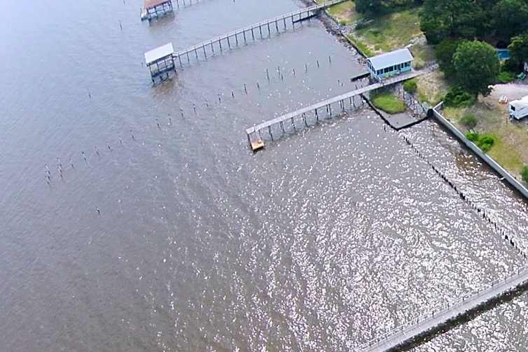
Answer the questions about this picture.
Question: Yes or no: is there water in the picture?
Yes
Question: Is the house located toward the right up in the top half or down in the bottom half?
top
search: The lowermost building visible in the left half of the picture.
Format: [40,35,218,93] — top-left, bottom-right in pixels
[138,45,181,83]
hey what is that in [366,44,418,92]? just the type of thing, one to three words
house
